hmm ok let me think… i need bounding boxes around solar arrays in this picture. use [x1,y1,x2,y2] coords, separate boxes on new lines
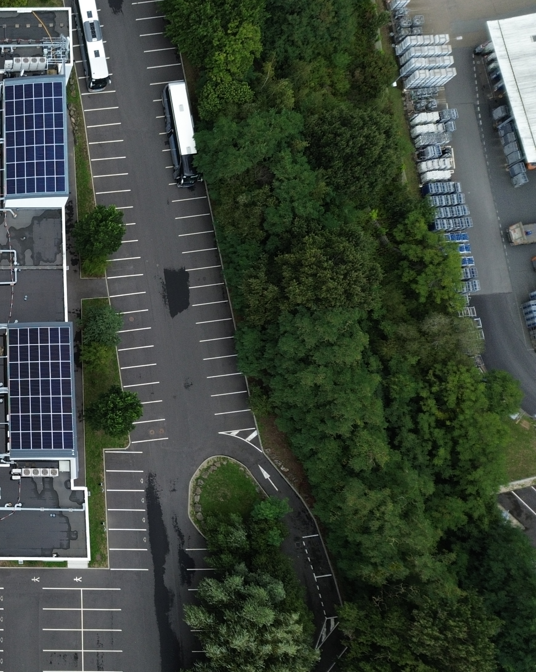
[8,326,73,449]
[5,82,65,196]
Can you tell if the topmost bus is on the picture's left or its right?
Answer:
left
